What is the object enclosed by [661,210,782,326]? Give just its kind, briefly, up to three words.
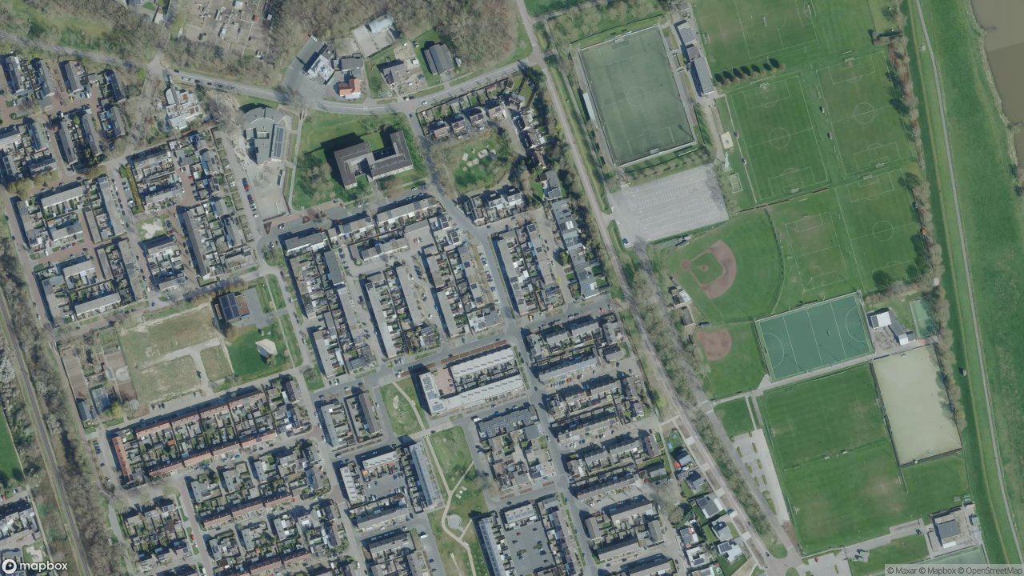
baseball field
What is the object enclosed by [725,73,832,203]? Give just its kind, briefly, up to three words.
soccer field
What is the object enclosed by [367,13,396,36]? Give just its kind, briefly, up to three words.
building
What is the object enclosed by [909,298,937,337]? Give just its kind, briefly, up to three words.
tennis court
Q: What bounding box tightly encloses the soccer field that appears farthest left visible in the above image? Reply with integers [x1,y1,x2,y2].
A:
[580,26,698,165]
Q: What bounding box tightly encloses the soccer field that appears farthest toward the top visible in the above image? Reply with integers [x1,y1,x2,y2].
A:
[733,0,820,61]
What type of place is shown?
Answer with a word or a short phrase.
residential area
